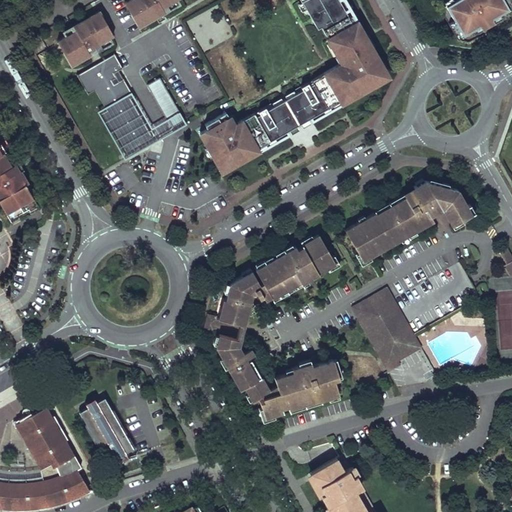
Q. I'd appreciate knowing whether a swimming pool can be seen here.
Yes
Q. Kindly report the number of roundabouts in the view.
2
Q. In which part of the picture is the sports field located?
top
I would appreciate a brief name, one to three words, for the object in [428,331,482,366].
swimming pool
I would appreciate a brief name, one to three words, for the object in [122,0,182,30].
house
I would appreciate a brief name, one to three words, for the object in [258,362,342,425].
building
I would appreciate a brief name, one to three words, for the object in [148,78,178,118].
shed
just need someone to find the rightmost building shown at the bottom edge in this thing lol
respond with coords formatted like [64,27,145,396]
[308,460,374,512]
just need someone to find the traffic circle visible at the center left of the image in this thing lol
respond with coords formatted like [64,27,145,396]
[69,226,190,346]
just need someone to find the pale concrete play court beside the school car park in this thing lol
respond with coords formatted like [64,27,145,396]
[194,4,233,50]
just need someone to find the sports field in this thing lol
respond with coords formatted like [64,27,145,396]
[242,0,320,94]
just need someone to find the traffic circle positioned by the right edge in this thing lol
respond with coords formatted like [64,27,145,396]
[410,64,498,152]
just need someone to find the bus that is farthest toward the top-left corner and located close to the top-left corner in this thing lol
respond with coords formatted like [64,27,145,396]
[4,60,28,100]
